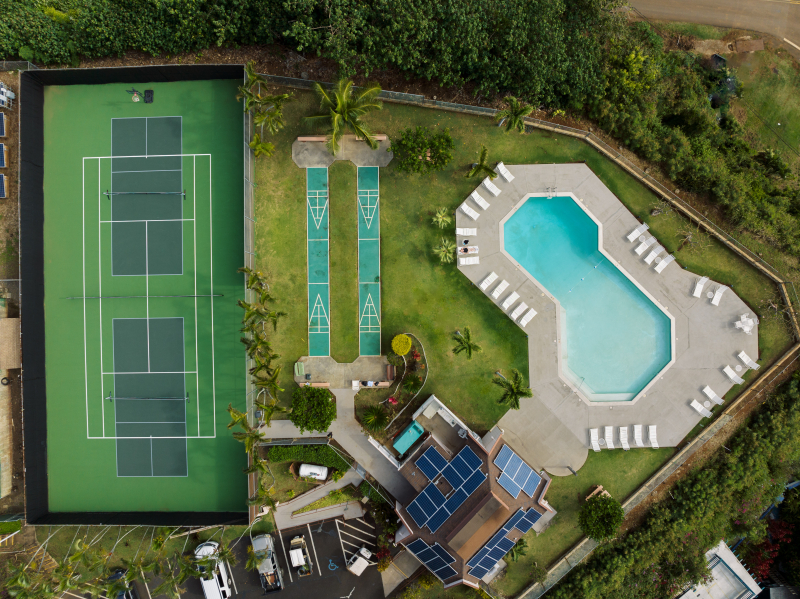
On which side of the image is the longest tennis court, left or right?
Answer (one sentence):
The longest tennis court appears in the left half of the scene.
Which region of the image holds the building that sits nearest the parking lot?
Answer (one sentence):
The building that sits nearest the parking lot appears toward the bottom of the photo.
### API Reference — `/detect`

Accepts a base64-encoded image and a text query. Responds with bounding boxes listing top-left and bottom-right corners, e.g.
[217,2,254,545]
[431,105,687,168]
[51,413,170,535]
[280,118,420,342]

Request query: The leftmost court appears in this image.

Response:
[44,80,251,512]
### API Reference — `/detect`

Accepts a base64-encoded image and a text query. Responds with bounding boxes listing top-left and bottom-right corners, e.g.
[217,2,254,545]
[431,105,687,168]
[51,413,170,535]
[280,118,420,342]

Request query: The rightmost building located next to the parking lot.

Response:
[394,423,555,592]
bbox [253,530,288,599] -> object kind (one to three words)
truck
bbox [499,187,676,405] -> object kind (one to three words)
swimming pool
